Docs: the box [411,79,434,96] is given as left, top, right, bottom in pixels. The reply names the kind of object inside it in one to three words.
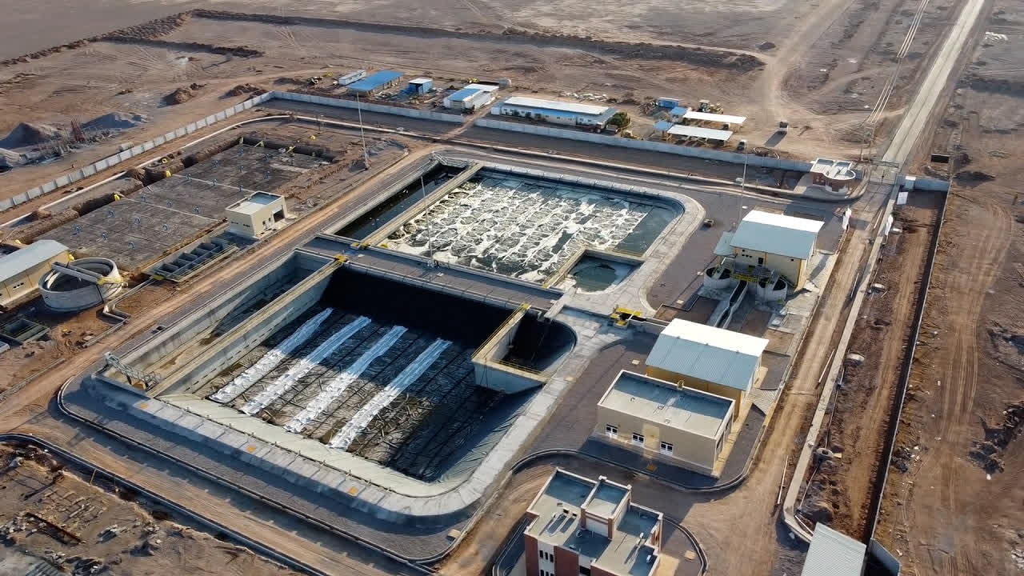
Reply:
shed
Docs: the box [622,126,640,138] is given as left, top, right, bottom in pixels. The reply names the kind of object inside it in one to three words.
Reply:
vehicle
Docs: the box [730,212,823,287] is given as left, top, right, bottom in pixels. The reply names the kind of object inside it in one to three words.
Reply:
building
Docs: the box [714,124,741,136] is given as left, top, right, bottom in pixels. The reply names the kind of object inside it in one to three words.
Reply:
vehicle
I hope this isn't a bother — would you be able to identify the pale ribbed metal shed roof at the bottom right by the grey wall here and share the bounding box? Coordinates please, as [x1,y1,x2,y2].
[801,524,869,576]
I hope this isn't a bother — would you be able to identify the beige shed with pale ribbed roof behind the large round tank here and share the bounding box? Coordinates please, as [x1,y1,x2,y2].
[0,236,71,313]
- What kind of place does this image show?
industrial area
